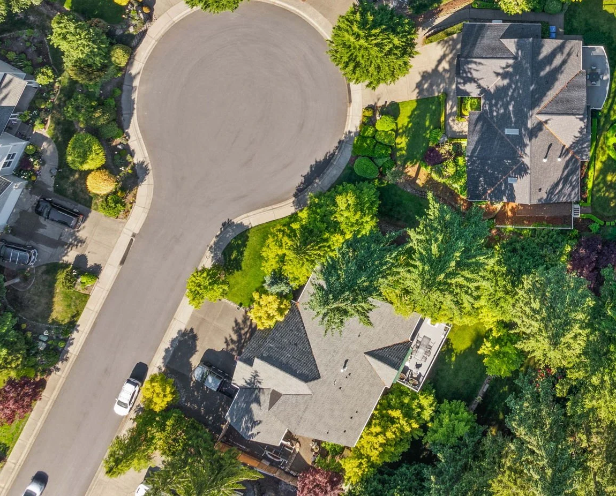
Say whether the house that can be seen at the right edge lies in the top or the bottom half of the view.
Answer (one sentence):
The house that can be seen at the right edge sits in the top half of the picture.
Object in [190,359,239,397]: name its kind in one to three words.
truck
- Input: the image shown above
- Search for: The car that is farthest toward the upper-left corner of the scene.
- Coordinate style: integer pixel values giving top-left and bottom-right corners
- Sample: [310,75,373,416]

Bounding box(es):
[34,196,85,231]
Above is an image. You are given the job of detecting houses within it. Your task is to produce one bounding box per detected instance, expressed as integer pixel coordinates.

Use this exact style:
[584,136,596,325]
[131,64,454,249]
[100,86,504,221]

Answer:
[455,19,591,205]
[0,60,28,229]
[217,259,426,448]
